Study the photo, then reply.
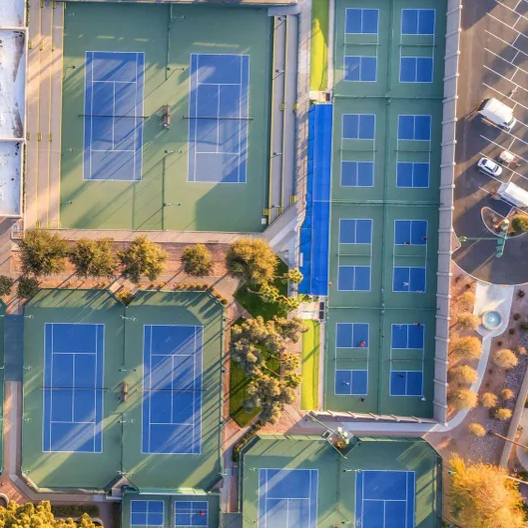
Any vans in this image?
Yes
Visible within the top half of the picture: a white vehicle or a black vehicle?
white vehicle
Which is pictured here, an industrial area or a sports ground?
sports ground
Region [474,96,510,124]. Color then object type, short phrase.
white van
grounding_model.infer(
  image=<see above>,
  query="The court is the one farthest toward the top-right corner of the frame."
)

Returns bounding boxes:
[387,0,447,98]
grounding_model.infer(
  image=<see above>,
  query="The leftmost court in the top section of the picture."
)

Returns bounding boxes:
[60,2,169,231]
